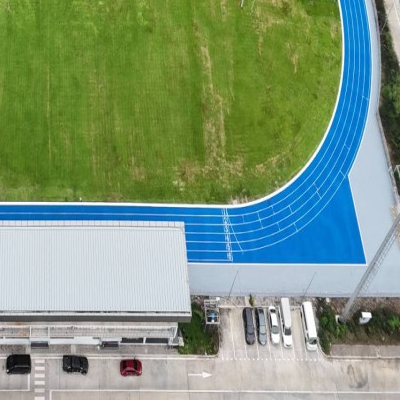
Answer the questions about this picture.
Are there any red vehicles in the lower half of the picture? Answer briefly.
Yes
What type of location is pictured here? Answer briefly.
sports ground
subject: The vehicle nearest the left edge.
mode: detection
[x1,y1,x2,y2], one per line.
[6,355,30,377]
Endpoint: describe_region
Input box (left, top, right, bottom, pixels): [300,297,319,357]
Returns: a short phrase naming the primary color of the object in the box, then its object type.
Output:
white vehicle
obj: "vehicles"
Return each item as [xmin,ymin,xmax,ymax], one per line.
[278,291,296,352]
[266,305,281,346]
[243,305,257,348]
[6,355,30,377]
[120,359,143,378]
[255,305,269,347]
[300,297,319,357]
[62,356,88,377]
